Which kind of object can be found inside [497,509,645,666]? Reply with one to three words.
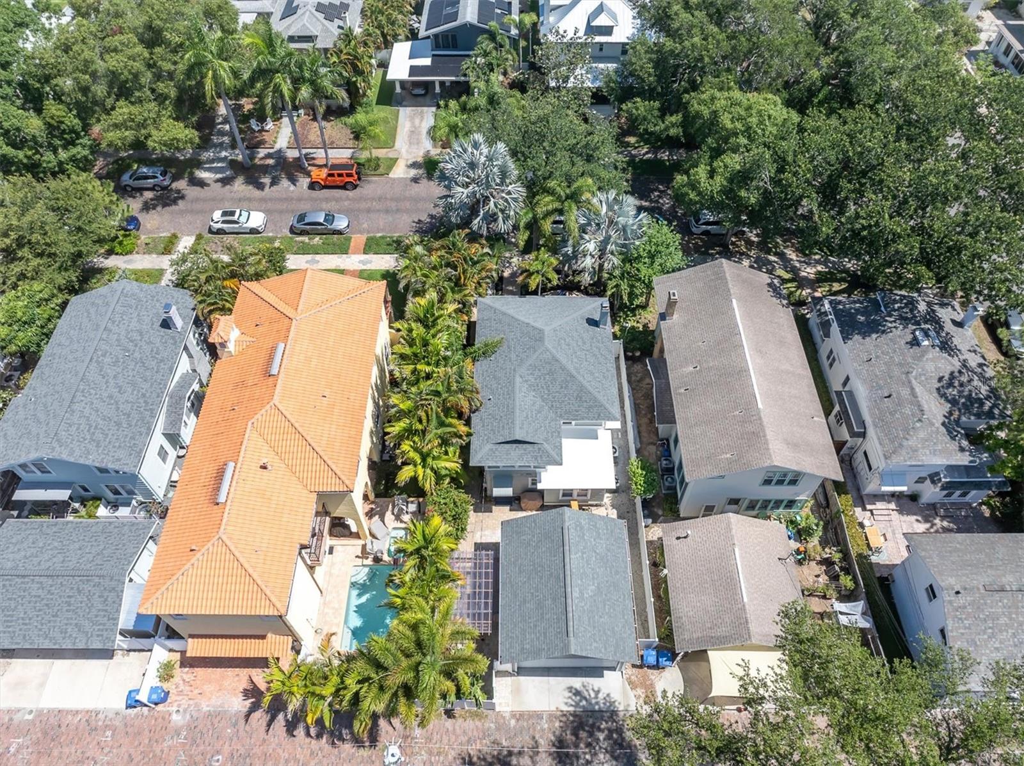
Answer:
building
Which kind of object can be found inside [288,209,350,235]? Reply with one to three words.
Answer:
car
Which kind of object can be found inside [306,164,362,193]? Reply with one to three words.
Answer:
car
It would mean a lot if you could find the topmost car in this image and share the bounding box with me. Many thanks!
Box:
[407,80,430,98]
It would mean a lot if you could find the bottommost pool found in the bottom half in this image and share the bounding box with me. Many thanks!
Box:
[335,559,409,655]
